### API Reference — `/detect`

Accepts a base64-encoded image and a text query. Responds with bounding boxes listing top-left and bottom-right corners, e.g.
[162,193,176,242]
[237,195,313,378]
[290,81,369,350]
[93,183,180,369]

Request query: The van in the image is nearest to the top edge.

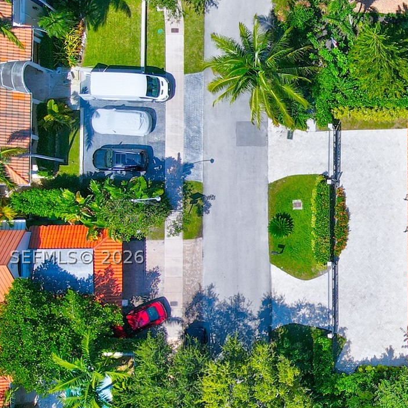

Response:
[80,64,169,98]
